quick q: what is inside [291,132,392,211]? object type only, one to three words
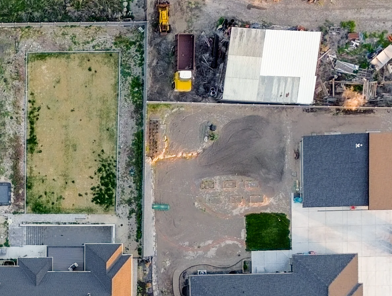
building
